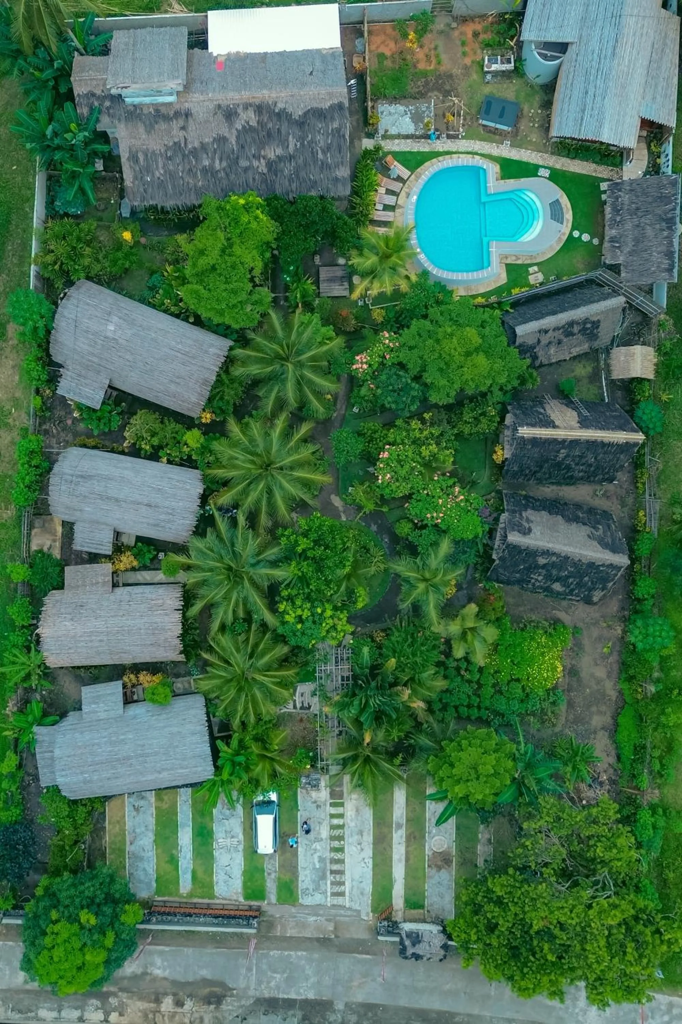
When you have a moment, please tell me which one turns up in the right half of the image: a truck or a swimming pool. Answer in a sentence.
The feature located in the right half of the image is a swimming pool.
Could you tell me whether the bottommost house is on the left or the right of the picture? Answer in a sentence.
It is on the left.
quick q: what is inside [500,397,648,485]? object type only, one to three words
house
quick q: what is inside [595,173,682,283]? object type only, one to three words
building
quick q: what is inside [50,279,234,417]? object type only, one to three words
house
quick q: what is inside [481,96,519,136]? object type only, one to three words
building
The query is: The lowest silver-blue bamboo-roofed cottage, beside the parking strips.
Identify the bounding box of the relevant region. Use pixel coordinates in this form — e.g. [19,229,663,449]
[34,681,216,800]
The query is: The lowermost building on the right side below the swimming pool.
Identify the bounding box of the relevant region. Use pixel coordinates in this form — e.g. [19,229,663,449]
[482,489,632,610]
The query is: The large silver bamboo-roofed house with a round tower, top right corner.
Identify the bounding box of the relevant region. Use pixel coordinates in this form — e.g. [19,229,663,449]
[521,0,682,170]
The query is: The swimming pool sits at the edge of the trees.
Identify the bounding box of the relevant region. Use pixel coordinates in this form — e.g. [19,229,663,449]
[395,154,572,295]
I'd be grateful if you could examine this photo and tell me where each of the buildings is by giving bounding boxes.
[69,24,354,218]
[48,446,203,555]
[500,281,630,372]
[521,0,682,170]
[482,489,632,610]
[595,173,682,283]
[34,681,216,800]
[50,279,234,417]
[481,96,519,136]
[500,397,648,485]
[38,564,188,668]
